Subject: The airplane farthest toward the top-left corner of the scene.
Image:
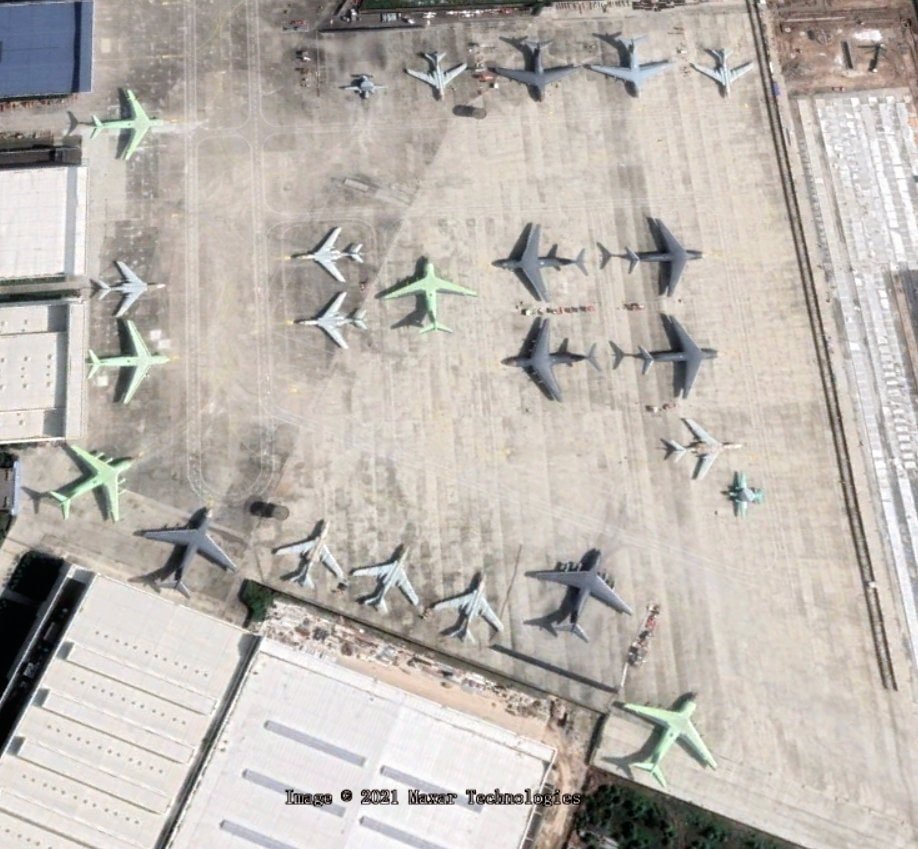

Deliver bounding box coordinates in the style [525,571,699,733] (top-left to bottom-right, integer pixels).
[90,90,167,159]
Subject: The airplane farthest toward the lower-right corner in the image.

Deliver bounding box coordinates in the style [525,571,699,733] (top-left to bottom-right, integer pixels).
[624,698,717,790]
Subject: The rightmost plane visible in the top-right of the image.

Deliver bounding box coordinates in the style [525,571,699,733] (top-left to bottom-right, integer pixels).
[693,48,753,98]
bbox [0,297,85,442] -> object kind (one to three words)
hangar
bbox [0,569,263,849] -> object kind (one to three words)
building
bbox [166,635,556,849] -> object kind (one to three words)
building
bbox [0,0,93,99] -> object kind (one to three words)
hangar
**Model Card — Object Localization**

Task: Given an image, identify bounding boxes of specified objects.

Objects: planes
[433,574,504,645]
[48,446,134,523]
[407,51,466,100]
[637,316,721,398]
[383,260,477,334]
[85,320,170,403]
[299,292,368,348]
[624,219,705,296]
[730,473,766,518]
[498,224,590,301]
[590,34,676,94]
[296,228,364,282]
[693,48,753,98]
[275,522,343,589]
[95,262,164,316]
[351,547,418,614]
[624,698,717,790]
[508,318,602,401]
[671,419,742,480]
[344,74,388,97]
[495,38,580,99]
[534,554,632,644]
[143,512,236,600]
[90,90,167,159]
